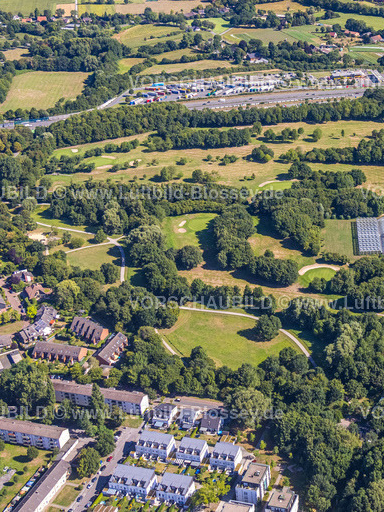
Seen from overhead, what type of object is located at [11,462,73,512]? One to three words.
building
